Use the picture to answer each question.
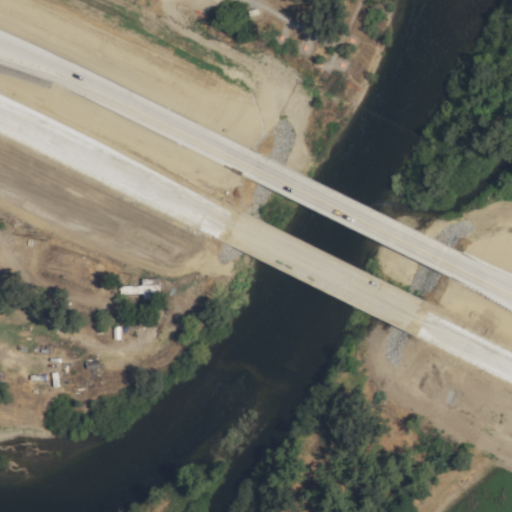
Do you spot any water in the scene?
Yes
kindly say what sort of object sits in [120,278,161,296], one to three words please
house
